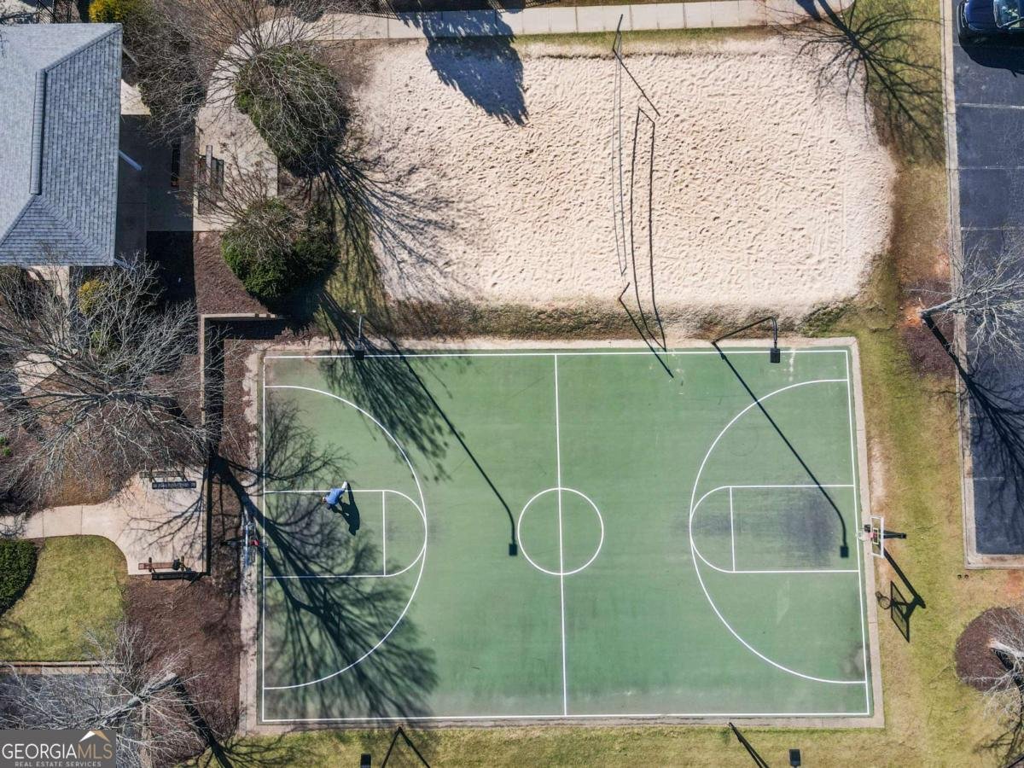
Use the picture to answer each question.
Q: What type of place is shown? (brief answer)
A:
sports ground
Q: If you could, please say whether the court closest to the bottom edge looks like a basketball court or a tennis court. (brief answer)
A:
basketball court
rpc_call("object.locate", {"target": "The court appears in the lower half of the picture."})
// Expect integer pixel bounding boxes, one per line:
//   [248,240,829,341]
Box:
[240,337,884,733]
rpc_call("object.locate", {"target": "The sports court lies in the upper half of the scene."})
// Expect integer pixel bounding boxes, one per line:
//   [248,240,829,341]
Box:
[360,40,899,323]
